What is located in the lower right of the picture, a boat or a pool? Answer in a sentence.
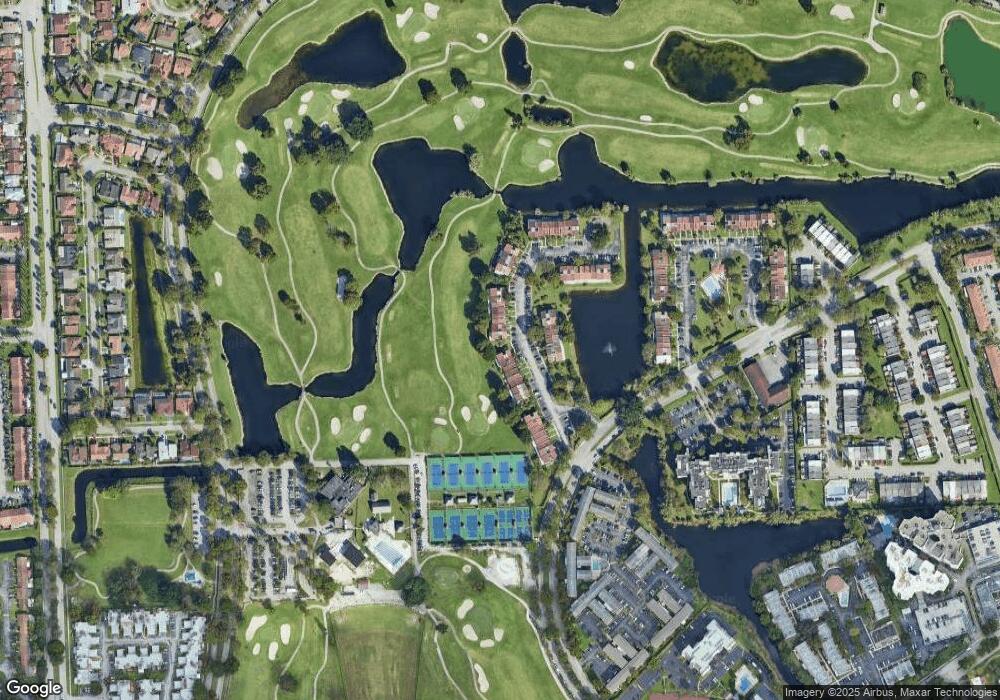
What appears in the lower right of the picture is a pool.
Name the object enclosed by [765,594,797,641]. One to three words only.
building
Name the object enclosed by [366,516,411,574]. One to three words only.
swimming pool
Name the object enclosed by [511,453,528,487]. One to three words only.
tennis court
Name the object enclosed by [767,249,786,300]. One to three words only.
house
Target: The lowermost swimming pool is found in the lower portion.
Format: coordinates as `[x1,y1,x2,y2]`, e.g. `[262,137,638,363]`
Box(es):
[736,665,758,694]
